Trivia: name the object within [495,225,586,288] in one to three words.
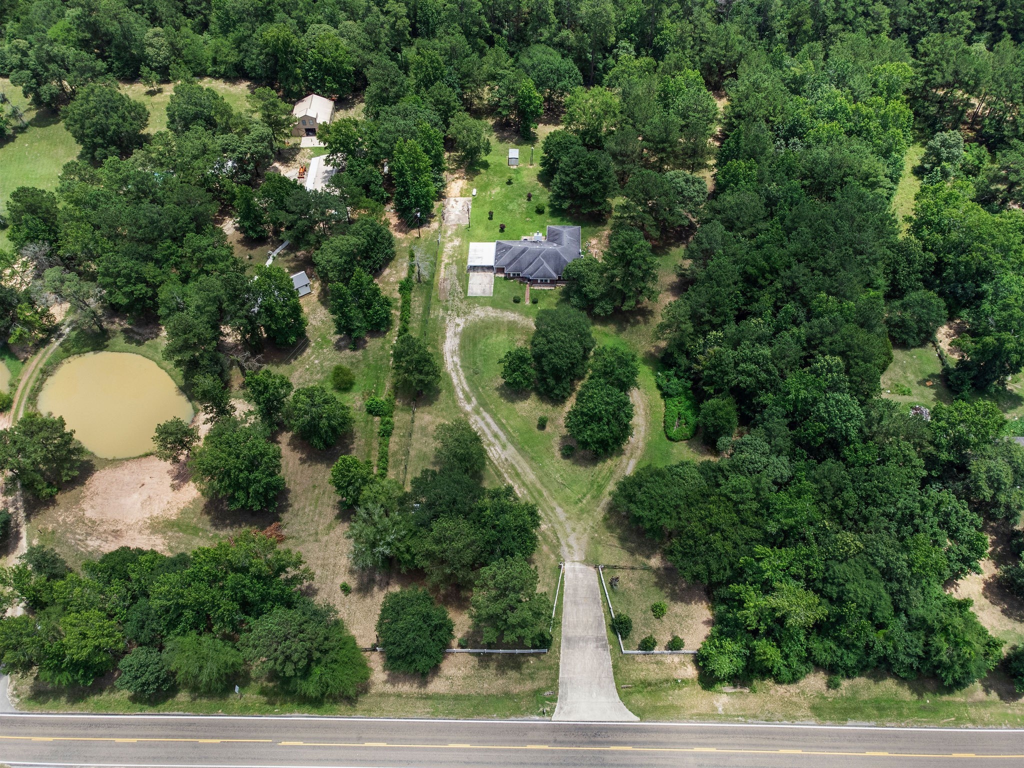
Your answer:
house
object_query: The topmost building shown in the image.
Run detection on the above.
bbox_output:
[289,92,334,137]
